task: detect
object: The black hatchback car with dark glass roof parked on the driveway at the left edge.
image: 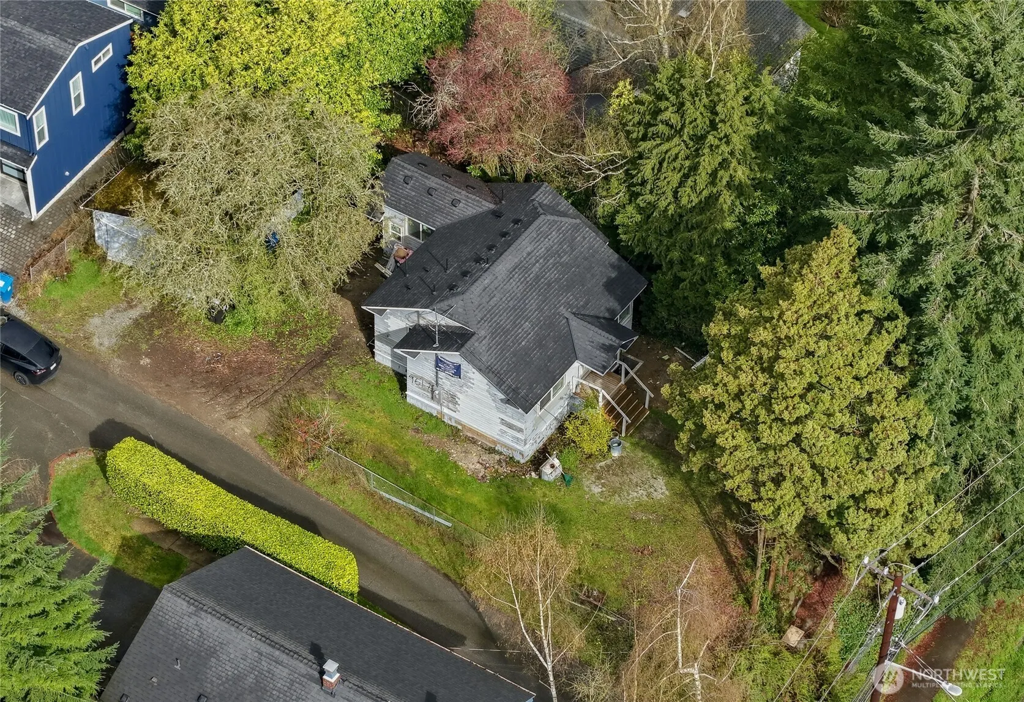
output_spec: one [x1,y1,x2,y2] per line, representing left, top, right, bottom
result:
[0,306,70,389]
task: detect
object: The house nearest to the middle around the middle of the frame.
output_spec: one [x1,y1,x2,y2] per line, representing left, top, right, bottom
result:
[357,151,655,461]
